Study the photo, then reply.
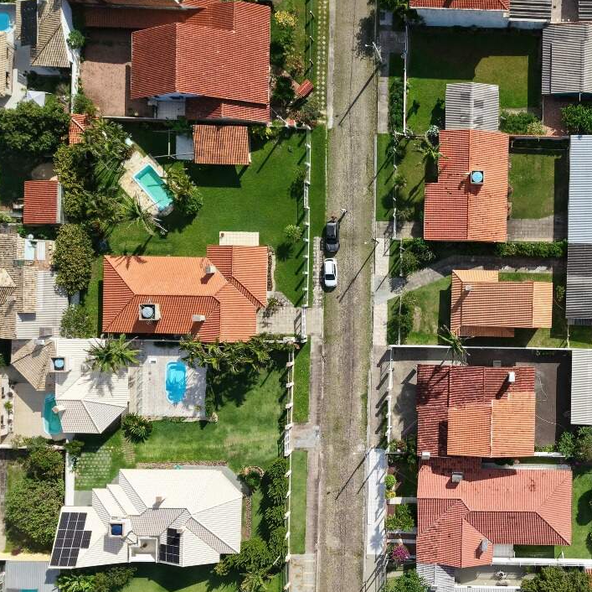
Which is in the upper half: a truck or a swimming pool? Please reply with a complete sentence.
What appears in the upper half is a swimming pool.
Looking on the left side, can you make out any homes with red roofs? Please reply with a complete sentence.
Yes, I can see a home with a red roof on the left side.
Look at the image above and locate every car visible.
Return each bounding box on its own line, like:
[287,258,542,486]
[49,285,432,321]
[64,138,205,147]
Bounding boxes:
[321,258,337,287]
[323,220,338,250]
